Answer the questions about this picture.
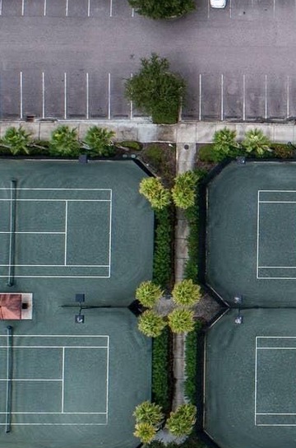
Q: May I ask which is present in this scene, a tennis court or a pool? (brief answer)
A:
tennis court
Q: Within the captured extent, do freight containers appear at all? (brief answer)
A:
No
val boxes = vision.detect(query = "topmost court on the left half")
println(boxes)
[0,159,153,306]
